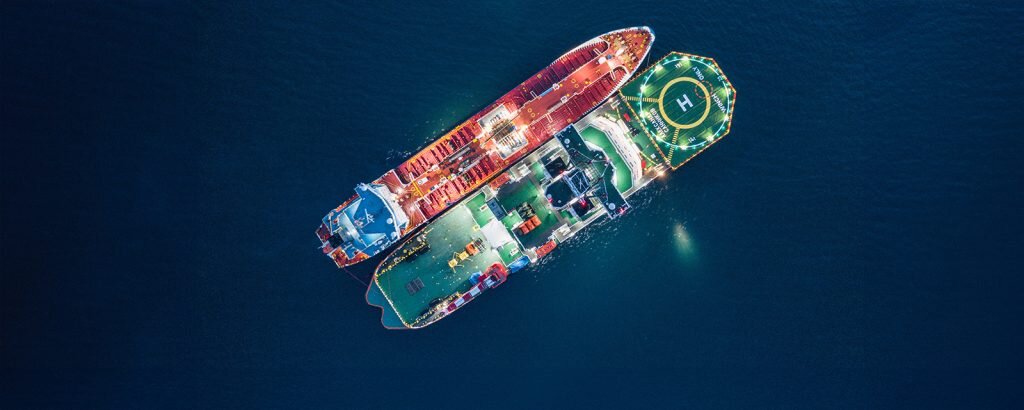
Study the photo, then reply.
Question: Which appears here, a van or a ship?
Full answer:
Visible in the photo is a ship.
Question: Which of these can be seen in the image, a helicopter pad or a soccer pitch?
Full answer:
It is a helicopter pad that can be seen here.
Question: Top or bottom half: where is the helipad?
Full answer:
The helipad is in the top half of the image.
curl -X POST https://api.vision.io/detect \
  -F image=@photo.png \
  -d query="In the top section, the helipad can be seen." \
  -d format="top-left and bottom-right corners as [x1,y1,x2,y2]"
[618,51,737,170]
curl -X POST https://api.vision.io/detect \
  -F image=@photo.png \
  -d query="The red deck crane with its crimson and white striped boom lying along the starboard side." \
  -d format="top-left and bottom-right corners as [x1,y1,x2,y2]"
[446,263,508,313]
